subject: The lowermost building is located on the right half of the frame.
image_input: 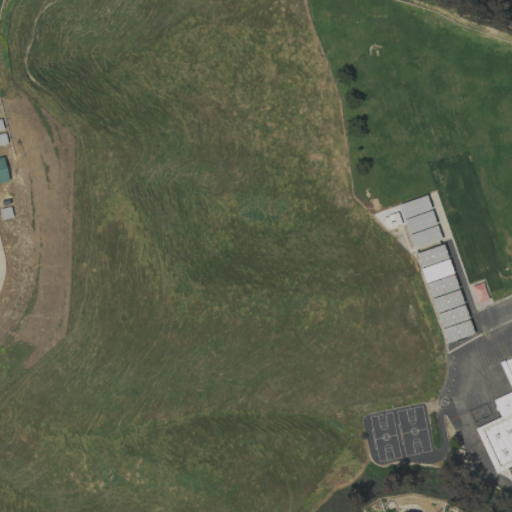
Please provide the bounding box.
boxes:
[478,413,512,474]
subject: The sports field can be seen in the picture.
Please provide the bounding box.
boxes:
[306,0,512,302]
